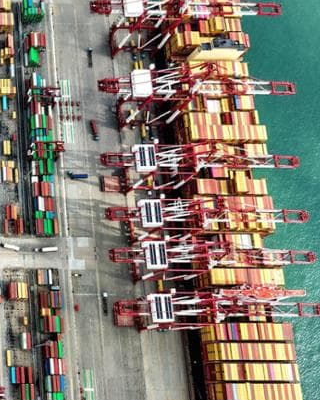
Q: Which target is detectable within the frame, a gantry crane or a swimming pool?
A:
gantry crane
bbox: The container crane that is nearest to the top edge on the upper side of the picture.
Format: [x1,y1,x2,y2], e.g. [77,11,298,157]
[91,0,279,59]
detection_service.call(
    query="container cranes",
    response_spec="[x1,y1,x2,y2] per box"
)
[111,233,318,285]
[103,138,302,198]
[97,64,291,132]
[26,86,61,107]
[26,140,62,159]
[116,282,320,335]
[91,0,279,59]
[108,193,311,248]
